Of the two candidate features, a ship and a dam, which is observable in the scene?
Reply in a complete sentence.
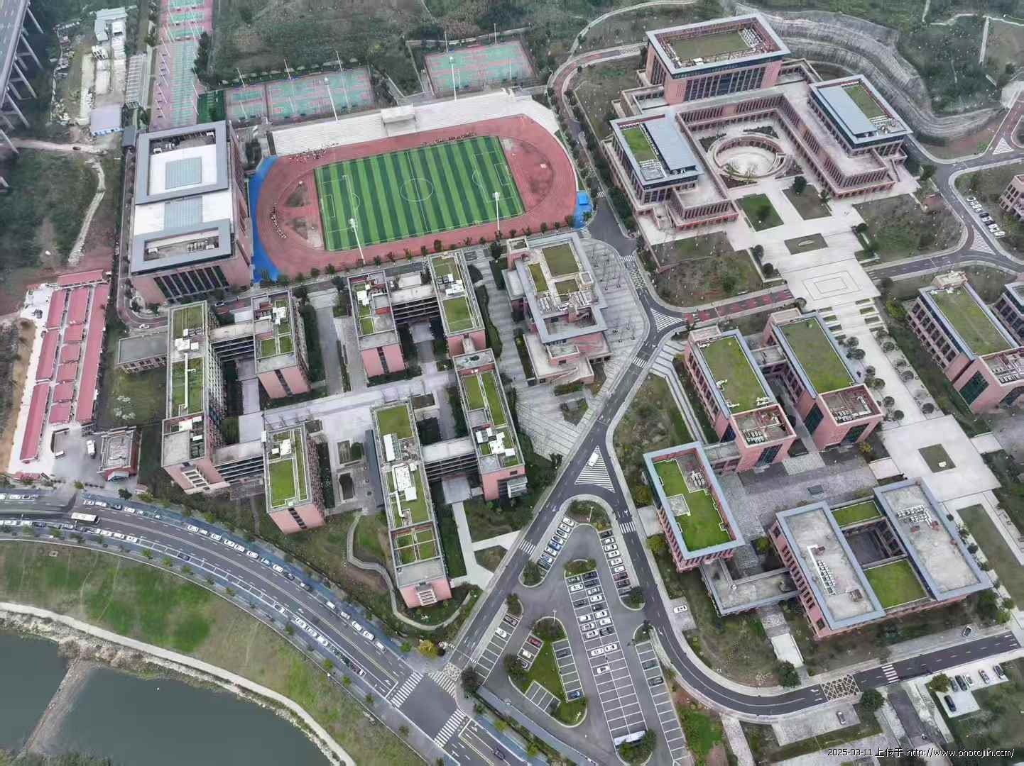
I can see a dam in this picture.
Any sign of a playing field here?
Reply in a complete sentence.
Yes, there's a playing field here.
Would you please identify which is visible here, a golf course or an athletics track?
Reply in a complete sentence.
The one in the frame is an athletics track.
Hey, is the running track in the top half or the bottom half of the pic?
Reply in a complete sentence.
The top half of the photo is where the running track is.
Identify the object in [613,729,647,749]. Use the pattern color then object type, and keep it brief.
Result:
white bus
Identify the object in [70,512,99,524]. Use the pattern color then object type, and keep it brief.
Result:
white vehicle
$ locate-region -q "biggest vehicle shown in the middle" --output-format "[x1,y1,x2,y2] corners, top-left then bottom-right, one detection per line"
[587,450,600,467]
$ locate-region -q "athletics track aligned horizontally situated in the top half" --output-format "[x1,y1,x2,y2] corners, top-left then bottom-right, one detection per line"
[257,114,578,278]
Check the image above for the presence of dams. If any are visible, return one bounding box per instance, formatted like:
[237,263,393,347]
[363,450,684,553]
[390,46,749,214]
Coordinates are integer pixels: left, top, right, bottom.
[28,660,91,750]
